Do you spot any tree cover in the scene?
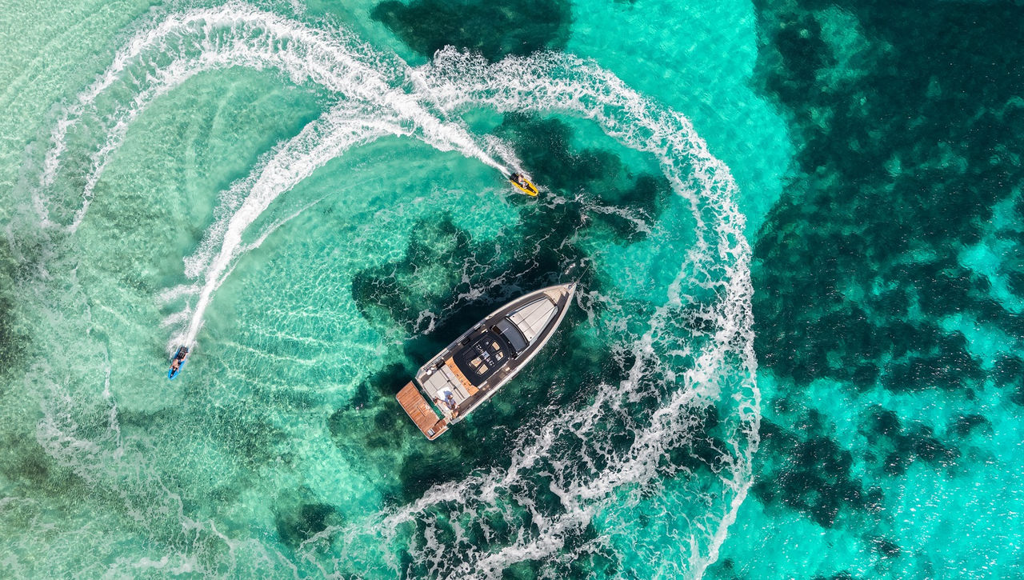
No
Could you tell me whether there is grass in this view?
No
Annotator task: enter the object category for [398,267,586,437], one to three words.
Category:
boat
